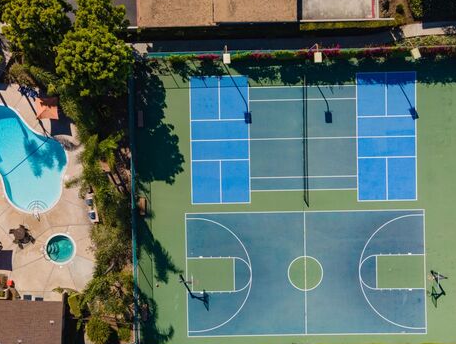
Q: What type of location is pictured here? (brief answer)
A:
sports ground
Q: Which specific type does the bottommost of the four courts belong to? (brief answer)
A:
basketball court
